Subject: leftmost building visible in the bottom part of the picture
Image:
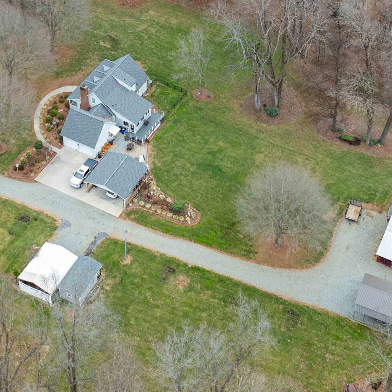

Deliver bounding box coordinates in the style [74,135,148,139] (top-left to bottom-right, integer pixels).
[16,242,81,306]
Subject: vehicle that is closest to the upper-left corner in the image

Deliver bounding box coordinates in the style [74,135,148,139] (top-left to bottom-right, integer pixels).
[70,155,97,186]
